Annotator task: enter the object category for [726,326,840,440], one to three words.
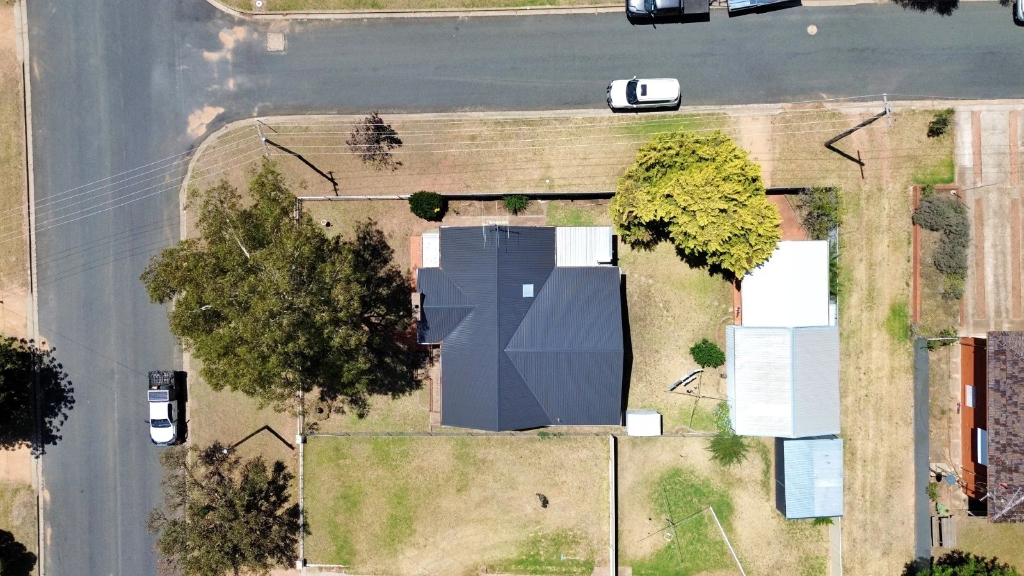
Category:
shed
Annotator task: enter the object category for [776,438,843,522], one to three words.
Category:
shed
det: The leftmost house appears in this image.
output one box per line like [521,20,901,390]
[412,223,625,433]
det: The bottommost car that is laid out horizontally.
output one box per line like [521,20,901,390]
[606,76,679,110]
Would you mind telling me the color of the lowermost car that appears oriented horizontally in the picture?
white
